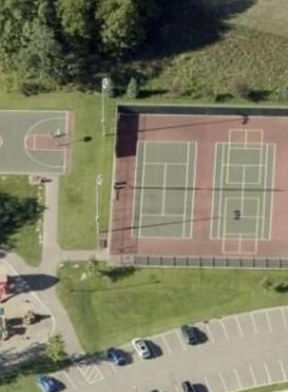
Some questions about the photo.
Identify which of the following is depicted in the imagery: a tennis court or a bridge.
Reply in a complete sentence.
Looking from above, you can make out a tennis court.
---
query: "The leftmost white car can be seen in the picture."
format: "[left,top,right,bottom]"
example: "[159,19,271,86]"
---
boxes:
[132,339,151,361]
